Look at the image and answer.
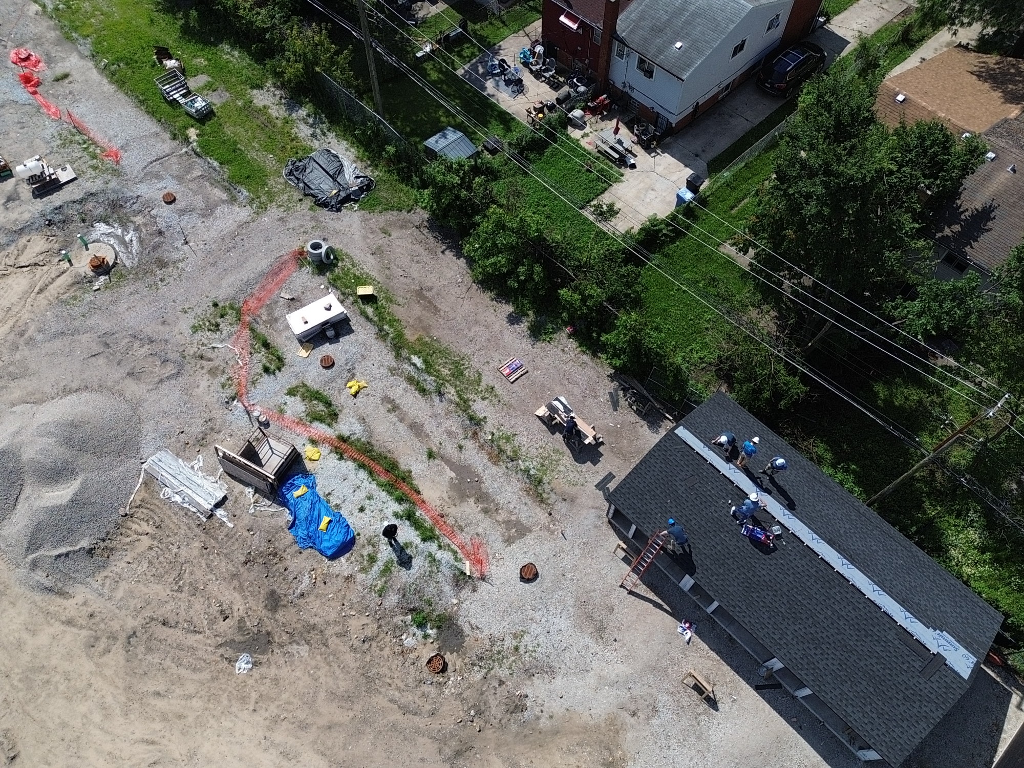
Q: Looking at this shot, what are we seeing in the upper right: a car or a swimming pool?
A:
car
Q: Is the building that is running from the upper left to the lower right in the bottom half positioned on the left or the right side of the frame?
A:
right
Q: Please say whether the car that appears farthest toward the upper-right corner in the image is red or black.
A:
black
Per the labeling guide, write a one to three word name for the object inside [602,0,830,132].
house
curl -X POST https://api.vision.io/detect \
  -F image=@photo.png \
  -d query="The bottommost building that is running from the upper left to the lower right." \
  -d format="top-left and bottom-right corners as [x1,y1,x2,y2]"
[605,389,1004,768]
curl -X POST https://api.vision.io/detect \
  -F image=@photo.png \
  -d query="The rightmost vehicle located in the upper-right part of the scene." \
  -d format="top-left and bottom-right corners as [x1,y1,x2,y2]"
[755,41,830,100]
